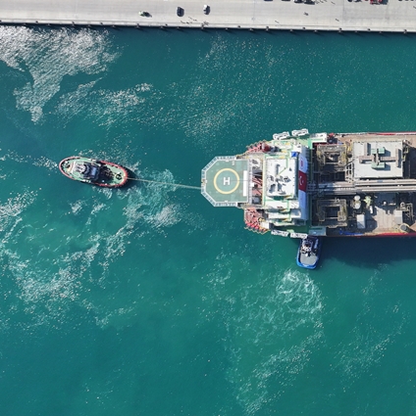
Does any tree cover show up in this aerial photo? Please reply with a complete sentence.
No, the picture contains no tree cover.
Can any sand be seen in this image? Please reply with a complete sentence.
No, sand can't be seen anywhere here.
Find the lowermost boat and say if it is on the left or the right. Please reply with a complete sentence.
The lowermost boat appears in the right half of the scene.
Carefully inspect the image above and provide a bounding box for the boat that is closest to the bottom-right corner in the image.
[294,237,322,274]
